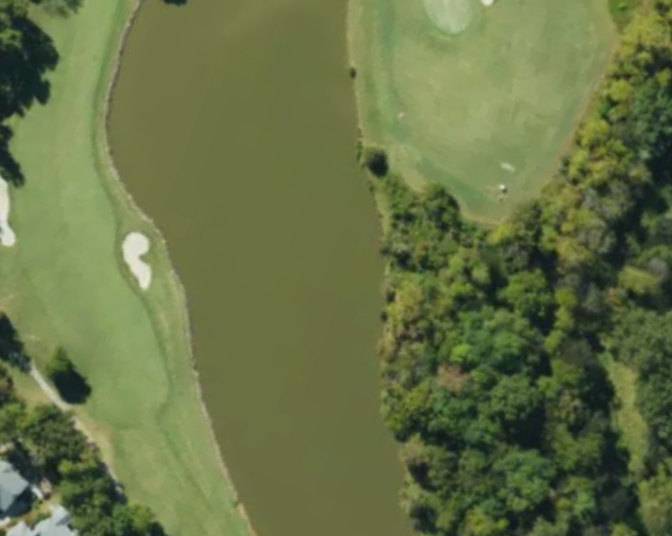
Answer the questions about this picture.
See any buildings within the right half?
No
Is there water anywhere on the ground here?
Yes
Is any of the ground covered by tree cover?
Yes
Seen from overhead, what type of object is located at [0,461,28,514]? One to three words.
house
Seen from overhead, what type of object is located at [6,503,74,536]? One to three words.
house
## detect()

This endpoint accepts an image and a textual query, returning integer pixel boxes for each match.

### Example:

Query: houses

[0,461,28,514]
[6,503,74,536]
